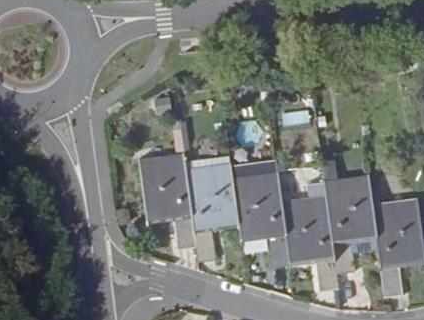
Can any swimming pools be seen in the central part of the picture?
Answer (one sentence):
Yes, a swimming pool is visible in the central part of the picture.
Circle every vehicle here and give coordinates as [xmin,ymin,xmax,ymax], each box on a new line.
[275,266,286,287]
[344,281,354,300]
[220,281,242,294]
